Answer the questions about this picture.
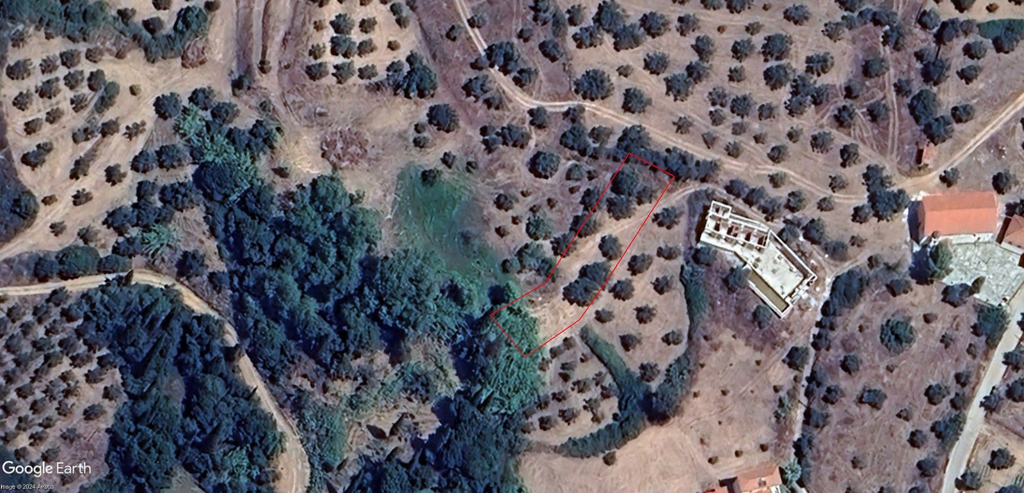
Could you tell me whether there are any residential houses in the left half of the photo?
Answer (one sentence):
No, I can find no residential house in the left half of the photo.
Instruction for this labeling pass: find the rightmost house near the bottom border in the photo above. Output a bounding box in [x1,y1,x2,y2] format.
[734,464,783,493]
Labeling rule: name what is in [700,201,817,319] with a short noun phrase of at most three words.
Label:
building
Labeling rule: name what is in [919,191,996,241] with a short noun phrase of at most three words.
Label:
house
